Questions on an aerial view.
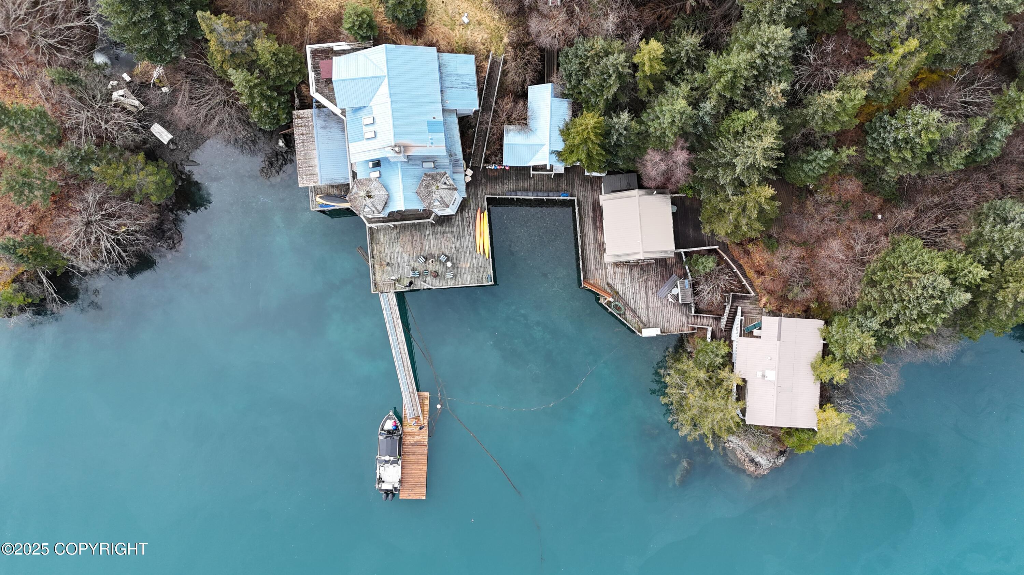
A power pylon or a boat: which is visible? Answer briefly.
boat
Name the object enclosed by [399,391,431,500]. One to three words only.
pier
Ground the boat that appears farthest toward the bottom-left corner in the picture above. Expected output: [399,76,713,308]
[376,410,402,499]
